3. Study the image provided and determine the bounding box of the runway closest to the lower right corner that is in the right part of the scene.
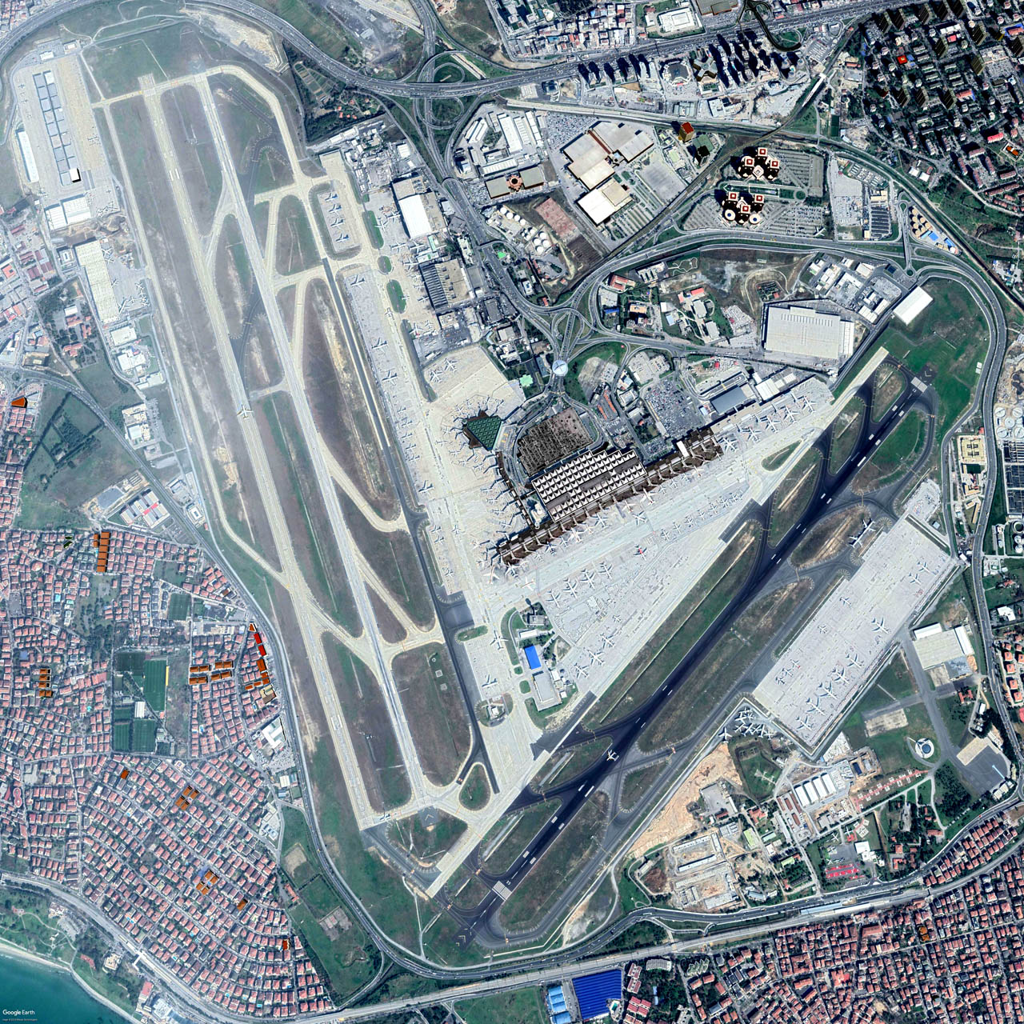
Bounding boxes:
[491,375,929,900]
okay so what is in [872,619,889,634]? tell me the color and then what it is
white airplane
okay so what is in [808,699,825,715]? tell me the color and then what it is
white airplane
